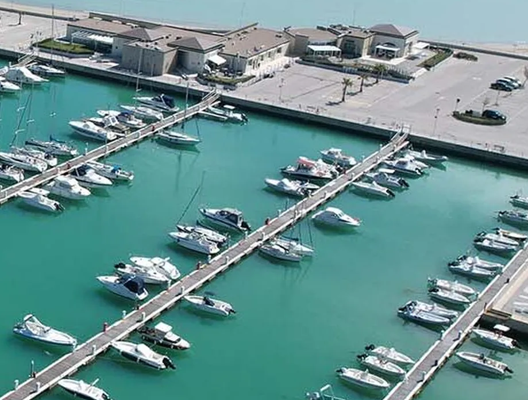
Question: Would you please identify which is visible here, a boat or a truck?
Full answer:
Of the two, only a boat appears.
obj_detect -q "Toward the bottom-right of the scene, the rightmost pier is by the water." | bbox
[485,270,528,340]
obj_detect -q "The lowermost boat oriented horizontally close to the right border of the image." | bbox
[458,353,518,377]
